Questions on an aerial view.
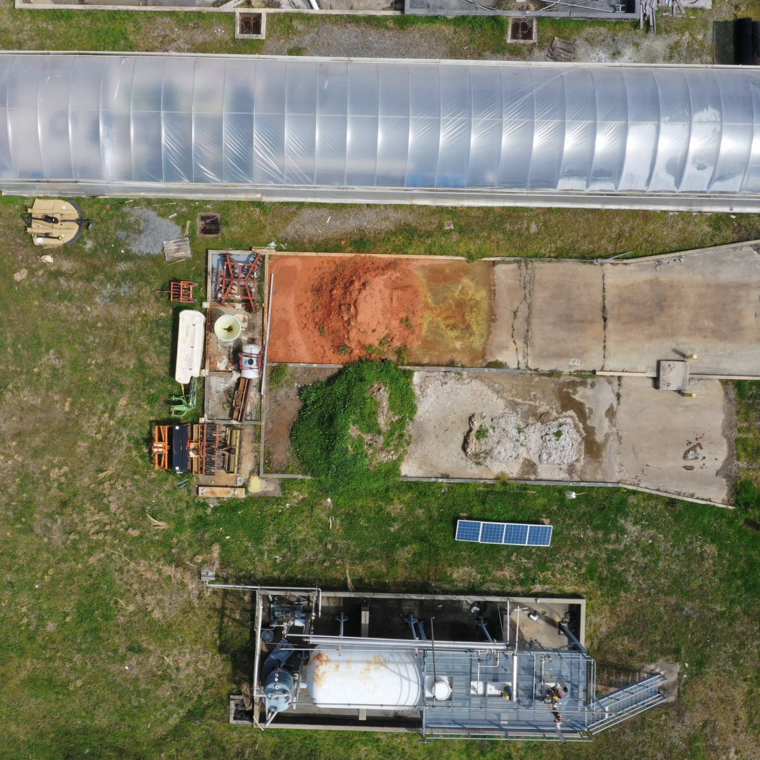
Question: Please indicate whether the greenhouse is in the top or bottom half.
top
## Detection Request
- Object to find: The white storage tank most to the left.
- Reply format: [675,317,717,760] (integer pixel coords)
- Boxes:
[177,310,206,384]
